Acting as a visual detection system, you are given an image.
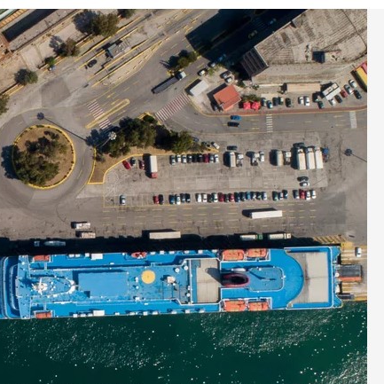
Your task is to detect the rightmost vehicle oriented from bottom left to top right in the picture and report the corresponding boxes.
[320,80,344,100]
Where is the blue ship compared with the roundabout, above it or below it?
below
